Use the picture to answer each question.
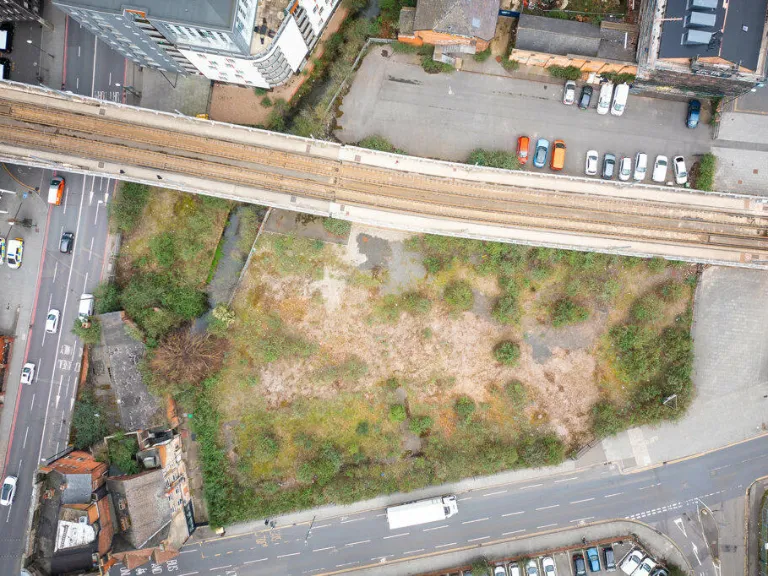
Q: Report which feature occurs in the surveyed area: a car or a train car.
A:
car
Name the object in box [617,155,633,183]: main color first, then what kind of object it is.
white car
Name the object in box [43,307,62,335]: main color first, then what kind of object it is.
white car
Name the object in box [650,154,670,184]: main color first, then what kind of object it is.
white vehicle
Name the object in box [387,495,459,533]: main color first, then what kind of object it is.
white truck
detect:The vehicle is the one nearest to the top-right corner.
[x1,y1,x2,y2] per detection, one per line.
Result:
[684,98,702,129]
